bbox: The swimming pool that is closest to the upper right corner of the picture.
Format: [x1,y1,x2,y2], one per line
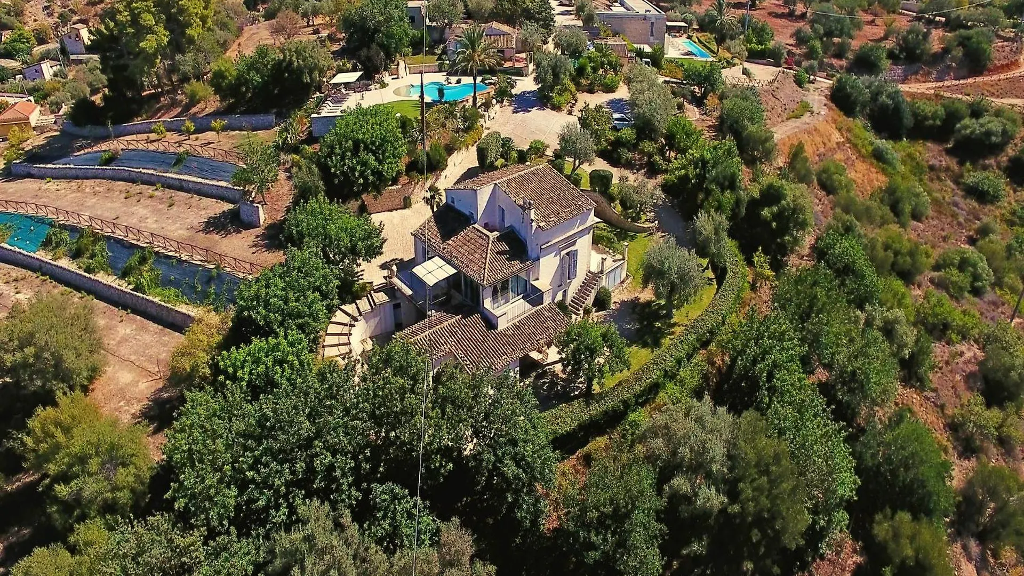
[678,39,714,57]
